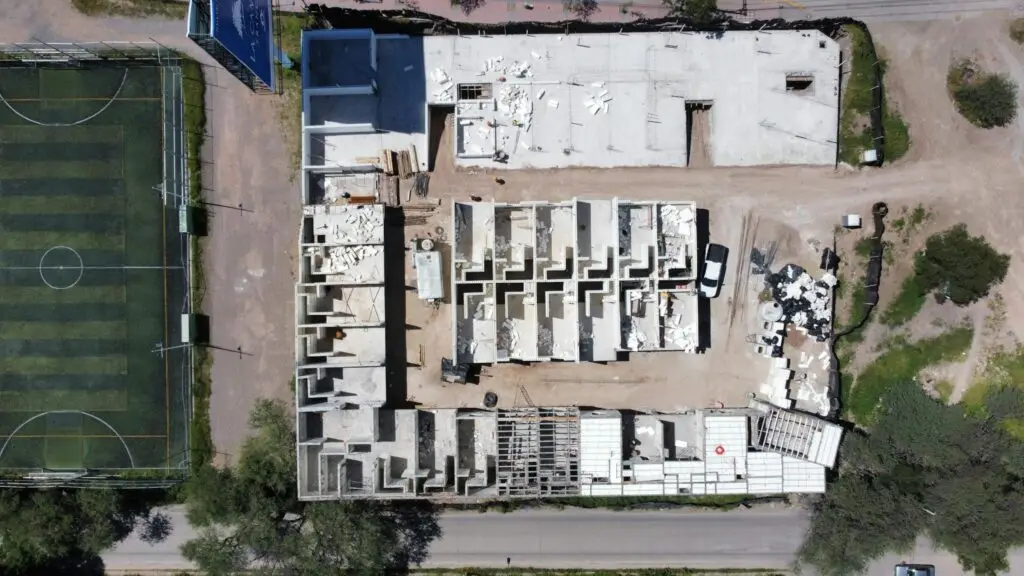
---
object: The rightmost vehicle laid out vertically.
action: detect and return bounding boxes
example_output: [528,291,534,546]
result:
[698,241,731,300]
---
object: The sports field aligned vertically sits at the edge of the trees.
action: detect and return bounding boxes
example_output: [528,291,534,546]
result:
[0,66,188,469]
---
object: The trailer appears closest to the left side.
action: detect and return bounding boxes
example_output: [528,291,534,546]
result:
[413,251,444,312]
